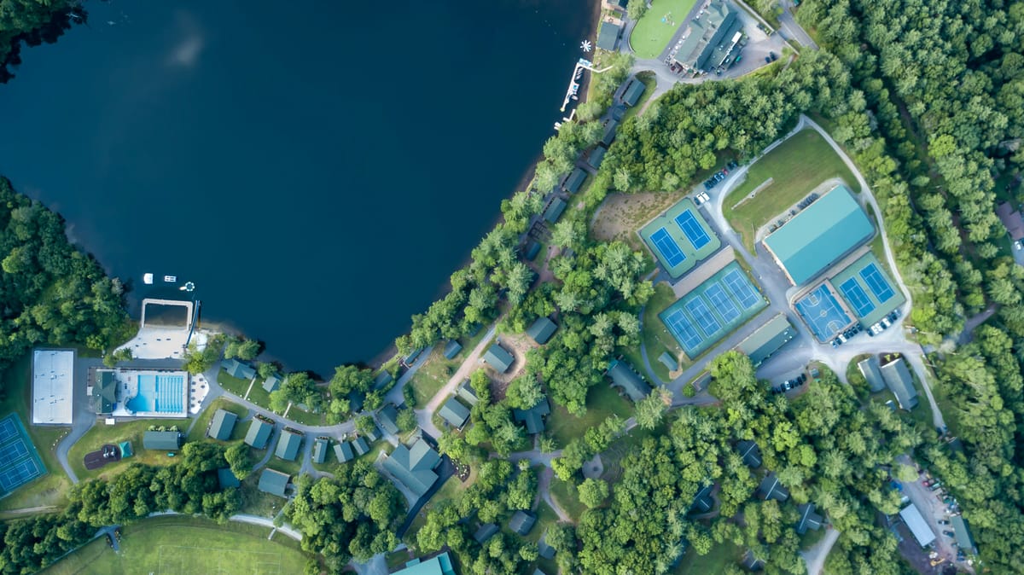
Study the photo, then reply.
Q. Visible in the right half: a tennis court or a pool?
tennis court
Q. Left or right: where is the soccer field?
left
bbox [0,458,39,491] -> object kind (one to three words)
tennis court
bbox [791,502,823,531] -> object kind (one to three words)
house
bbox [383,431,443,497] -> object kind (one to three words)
building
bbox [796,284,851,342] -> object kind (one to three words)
basketball court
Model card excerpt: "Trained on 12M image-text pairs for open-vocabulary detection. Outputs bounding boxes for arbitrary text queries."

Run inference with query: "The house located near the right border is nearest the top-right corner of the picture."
[994,201,1024,241]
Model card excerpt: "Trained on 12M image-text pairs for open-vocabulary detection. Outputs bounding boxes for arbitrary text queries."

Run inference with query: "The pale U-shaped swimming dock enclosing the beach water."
[141,299,193,329]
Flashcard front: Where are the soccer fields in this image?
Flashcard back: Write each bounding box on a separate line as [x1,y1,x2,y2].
[48,522,307,575]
